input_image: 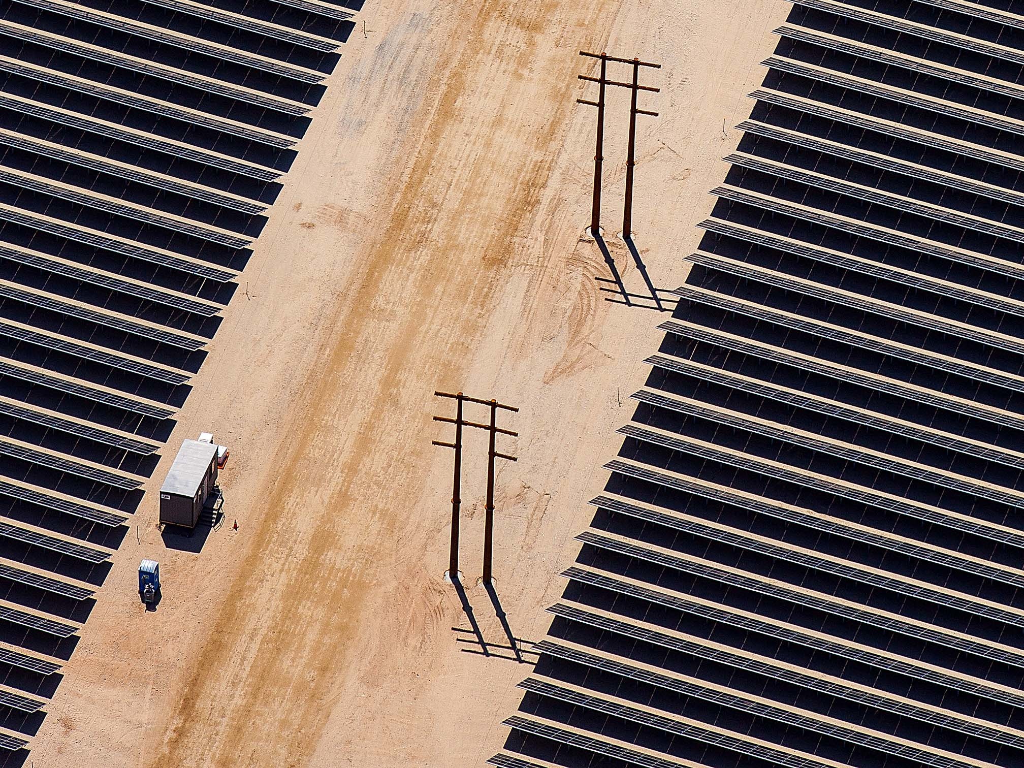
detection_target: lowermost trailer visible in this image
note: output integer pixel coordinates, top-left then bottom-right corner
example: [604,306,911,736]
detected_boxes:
[159,439,219,534]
